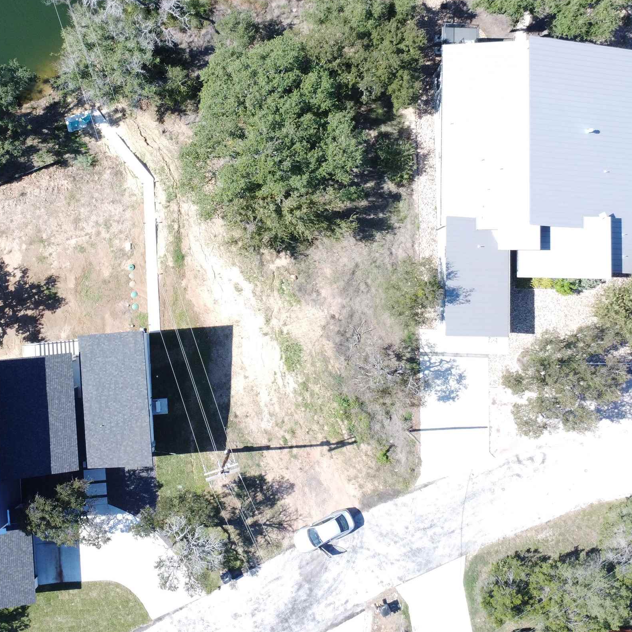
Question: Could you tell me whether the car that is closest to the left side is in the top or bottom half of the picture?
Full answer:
It is in the bottom half that the car that is closest to the left side appears.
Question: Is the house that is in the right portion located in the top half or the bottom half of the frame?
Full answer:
You can find the house that is in the right portion in the top half.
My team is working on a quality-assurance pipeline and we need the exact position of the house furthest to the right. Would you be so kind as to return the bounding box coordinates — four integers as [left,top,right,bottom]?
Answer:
[436,35,632,337]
